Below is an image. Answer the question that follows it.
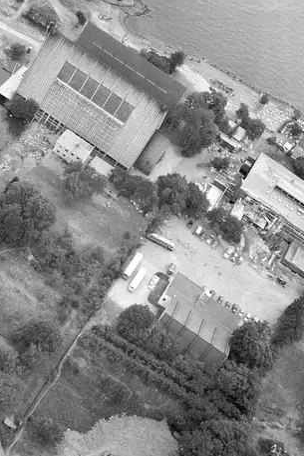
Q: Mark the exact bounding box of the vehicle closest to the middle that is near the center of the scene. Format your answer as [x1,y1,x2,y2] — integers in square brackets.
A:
[148,232,175,251]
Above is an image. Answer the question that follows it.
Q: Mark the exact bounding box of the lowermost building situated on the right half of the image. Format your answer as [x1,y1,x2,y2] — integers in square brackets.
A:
[152,275,245,372]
